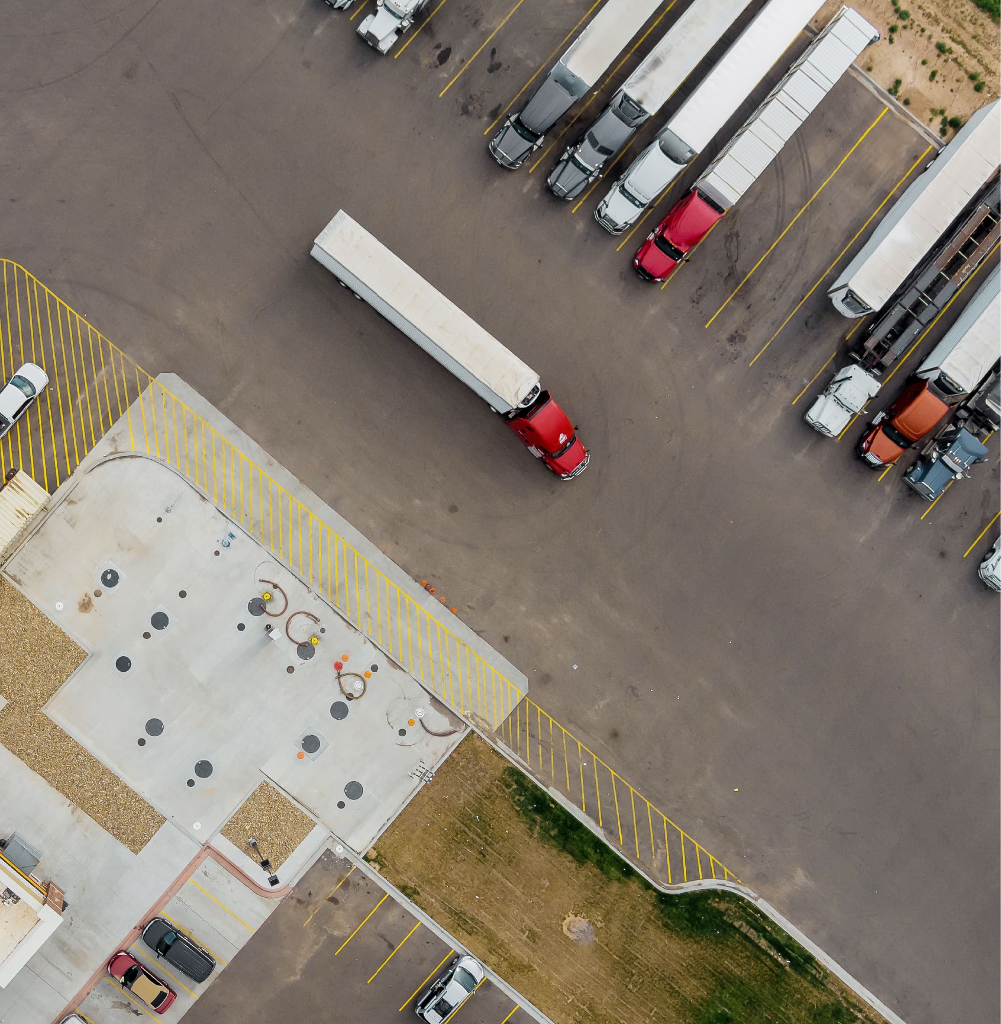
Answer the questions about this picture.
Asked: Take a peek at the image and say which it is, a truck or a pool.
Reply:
truck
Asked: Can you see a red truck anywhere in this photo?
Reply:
Yes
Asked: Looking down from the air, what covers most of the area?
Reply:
paved ground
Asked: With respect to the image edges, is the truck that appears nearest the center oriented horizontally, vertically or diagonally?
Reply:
diagonally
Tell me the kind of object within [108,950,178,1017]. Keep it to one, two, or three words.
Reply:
car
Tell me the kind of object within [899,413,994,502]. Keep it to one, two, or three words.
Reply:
truck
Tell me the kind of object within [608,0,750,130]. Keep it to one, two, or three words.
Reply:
trailer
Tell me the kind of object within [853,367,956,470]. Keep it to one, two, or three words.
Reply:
truck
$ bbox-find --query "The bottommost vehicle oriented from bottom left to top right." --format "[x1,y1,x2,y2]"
[418,953,484,1024]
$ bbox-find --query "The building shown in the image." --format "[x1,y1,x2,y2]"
[0,844,65,988]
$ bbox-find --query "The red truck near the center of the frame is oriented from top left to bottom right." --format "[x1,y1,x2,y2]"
[488,392,590,480]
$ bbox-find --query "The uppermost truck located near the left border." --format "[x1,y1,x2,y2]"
[0,364,48,441]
